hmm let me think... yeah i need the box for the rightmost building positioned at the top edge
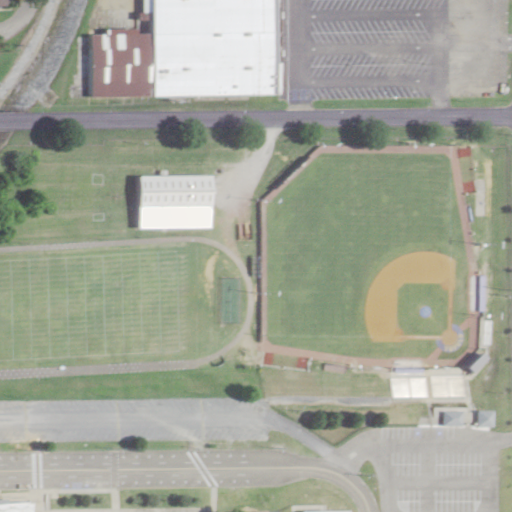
[151,0,285,98]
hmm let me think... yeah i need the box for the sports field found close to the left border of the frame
[0,254,203,360]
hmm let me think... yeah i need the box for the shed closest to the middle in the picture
[138,176,216,230]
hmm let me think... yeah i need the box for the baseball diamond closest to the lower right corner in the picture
[261,146,476,368]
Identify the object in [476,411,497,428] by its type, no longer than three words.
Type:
building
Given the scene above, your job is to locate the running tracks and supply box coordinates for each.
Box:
[0,236,254,379]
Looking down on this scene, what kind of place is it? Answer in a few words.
sports ground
